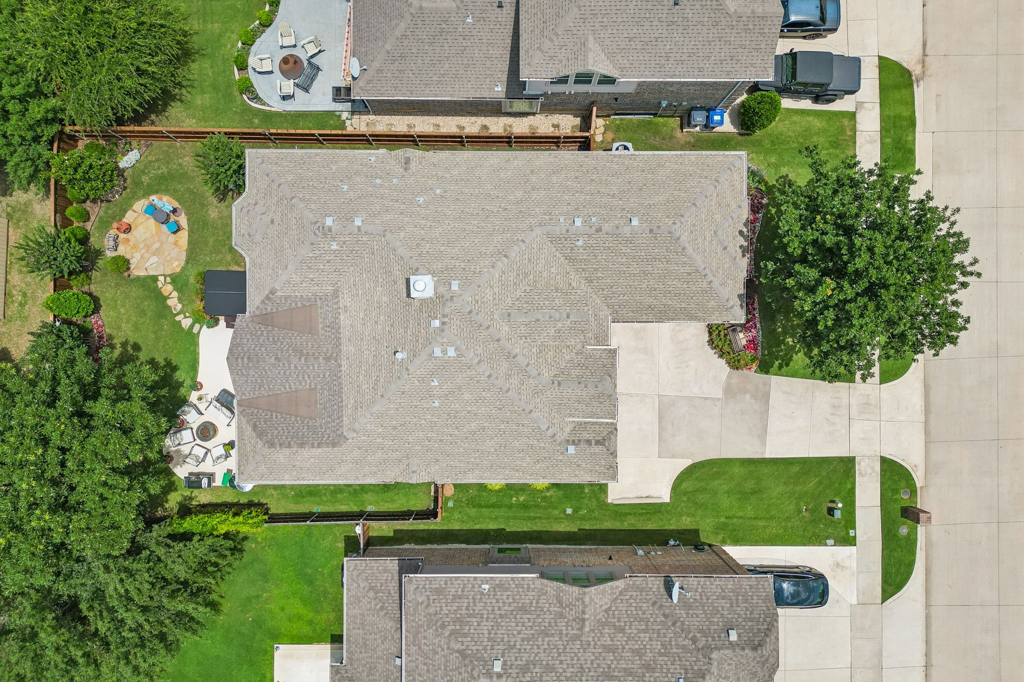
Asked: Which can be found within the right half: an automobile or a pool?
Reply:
automobile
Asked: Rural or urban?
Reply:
urban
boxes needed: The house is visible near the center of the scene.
[227,148,752,485]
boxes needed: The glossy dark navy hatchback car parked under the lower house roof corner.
[743,565,829,609]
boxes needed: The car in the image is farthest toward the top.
[781,0,841,39]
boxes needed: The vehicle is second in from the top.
[744,50,861,101]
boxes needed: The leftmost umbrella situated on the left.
[152,199,184,218]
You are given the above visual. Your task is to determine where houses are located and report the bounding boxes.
[349,0,784,114]
[227,148,752,485]
[328,543,781,682]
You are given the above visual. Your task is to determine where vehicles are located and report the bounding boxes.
[744,50,861,101]
[743,565,829,609]
[781,0,841,39]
